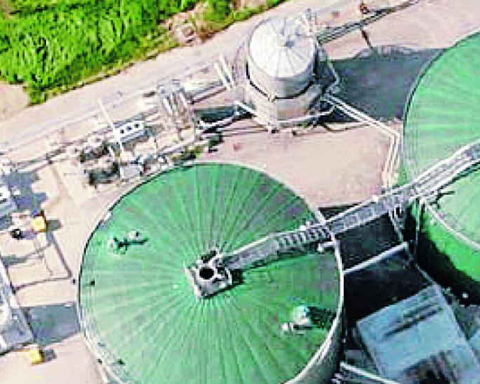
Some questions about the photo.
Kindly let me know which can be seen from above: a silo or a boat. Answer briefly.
silo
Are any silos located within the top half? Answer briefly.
Yes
